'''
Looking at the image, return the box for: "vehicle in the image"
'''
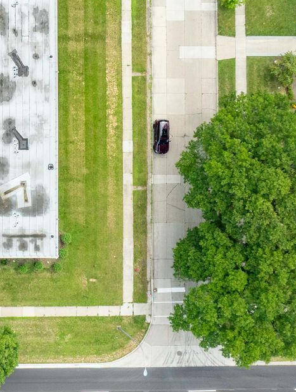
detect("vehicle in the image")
[152,120,169,154]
